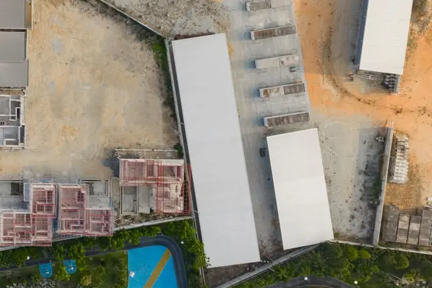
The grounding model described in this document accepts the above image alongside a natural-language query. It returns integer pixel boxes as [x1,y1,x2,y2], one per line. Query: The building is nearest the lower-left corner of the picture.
[0,180,55,246]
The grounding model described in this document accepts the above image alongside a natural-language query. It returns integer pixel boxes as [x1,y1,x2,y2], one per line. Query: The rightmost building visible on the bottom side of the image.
[262,128,334,250]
